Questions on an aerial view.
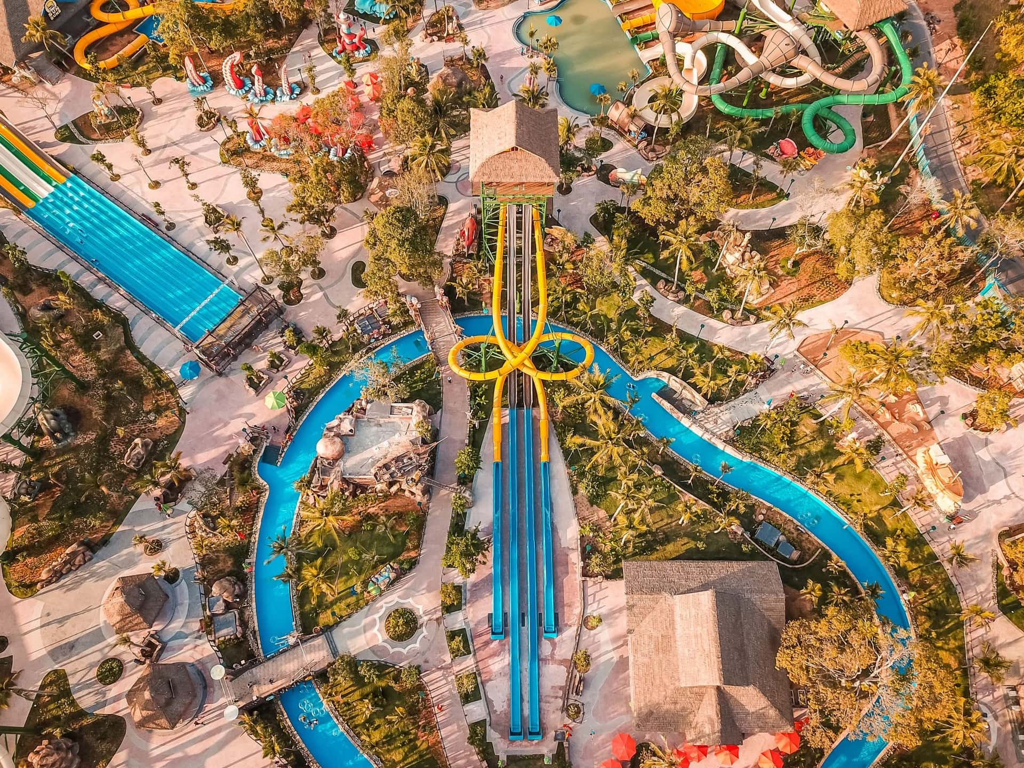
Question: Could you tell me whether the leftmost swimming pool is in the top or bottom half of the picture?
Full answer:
You can find the leftmost swimming pool in the top half.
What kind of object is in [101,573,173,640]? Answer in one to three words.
shed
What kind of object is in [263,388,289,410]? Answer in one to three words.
umbrella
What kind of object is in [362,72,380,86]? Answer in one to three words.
umbrella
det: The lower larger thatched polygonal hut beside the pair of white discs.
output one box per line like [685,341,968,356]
[124,657,208,735]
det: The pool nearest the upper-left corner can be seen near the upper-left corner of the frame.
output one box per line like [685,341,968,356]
[133,15,170,41]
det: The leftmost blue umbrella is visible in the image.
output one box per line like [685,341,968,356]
[176,357,203,380]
